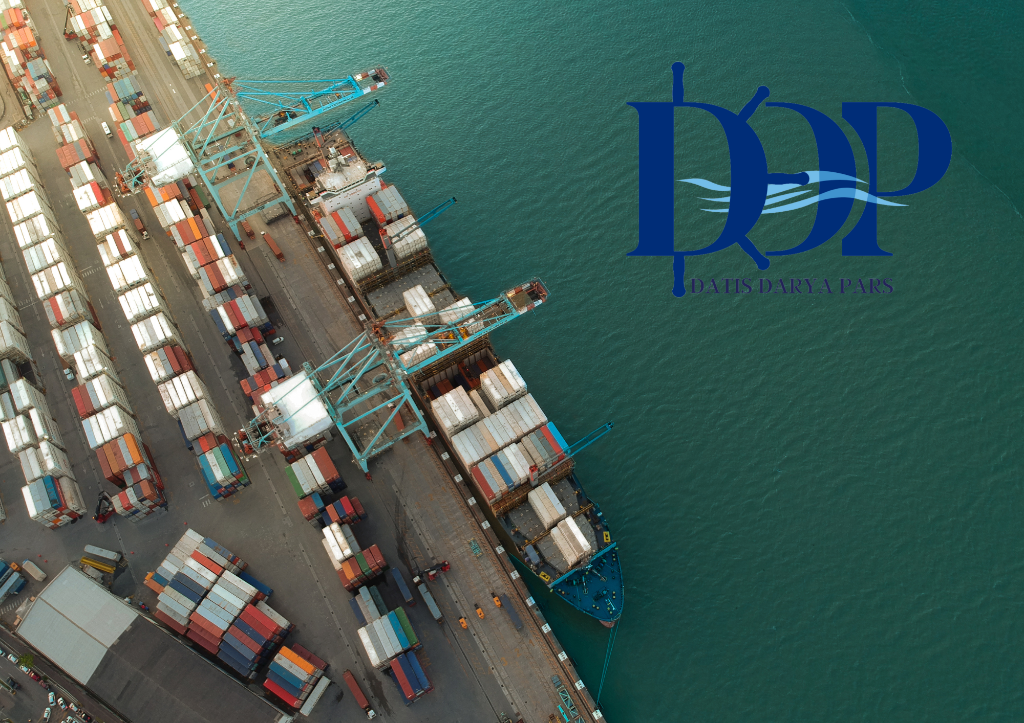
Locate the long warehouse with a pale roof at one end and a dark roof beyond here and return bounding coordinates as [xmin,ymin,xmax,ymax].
[9,562,291,723]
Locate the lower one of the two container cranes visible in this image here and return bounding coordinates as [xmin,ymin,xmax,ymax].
[234,272,552,481]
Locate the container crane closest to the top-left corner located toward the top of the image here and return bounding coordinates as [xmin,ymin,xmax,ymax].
[119,63,394,249]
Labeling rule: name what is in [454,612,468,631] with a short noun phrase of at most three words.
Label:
work vehicle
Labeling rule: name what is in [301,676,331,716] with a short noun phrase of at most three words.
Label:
shipping container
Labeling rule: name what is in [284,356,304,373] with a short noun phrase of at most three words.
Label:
vehicle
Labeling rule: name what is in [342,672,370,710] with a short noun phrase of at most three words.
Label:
shipping container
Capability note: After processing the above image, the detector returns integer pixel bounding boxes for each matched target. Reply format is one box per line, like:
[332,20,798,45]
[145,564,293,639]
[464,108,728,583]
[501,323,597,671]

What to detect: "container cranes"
[234,272,552,481]
[119,63,394,249]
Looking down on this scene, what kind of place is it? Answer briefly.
port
